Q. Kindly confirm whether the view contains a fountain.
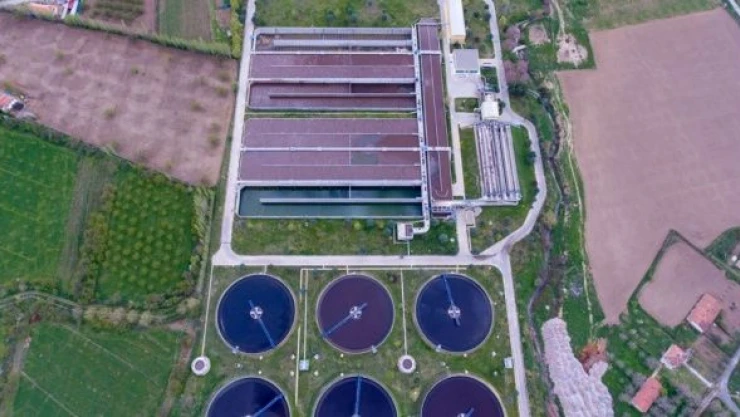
No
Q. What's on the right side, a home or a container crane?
home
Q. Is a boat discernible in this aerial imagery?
No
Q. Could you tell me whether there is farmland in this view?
Yes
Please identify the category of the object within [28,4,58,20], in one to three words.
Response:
house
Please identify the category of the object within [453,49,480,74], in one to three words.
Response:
building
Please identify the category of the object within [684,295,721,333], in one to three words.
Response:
house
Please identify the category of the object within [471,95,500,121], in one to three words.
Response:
building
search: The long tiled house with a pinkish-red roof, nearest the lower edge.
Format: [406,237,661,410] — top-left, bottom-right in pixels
[632,377,664,412]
